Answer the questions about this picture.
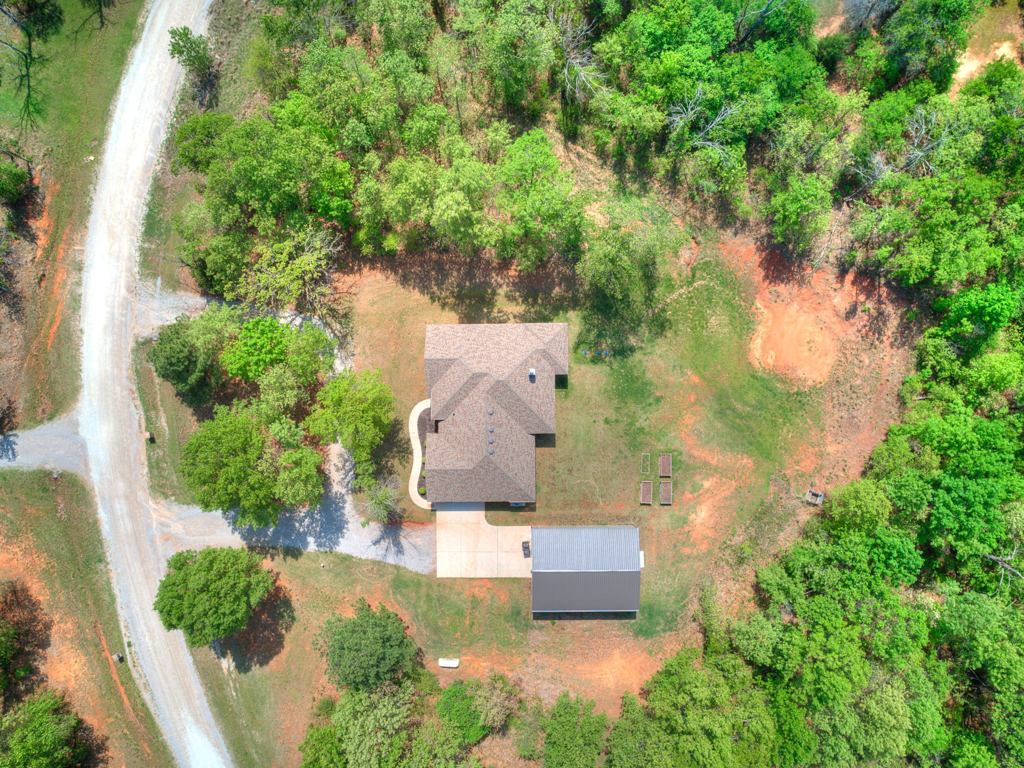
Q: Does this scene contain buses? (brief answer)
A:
No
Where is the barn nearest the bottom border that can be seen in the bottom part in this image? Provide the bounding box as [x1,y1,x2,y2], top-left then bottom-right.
[530,522,645,612]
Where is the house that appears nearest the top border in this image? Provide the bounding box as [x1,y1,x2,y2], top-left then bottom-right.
[423,324,569,503]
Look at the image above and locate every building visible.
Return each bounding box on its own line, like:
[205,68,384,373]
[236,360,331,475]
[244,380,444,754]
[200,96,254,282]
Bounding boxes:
[423,324,569,503]
[530,522,645,612]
